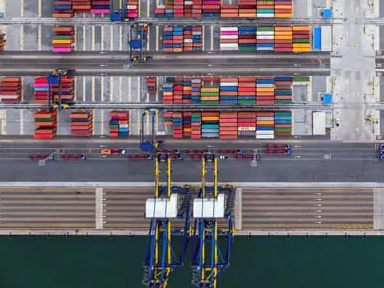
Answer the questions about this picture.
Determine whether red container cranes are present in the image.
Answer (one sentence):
No, no red container crane can be seen from above.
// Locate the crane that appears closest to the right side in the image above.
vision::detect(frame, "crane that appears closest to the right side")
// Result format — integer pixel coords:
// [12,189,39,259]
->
[185,155,242,288]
